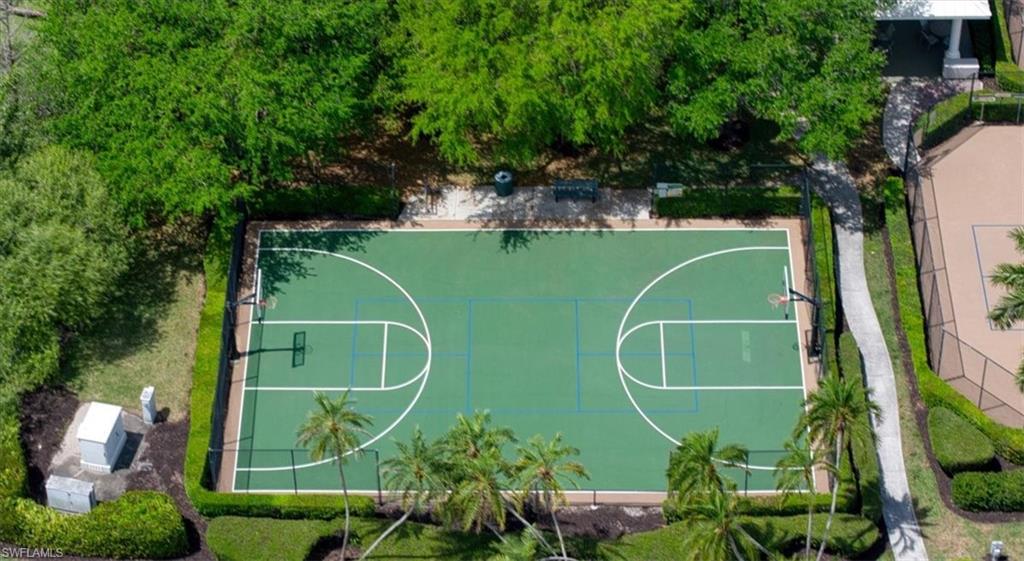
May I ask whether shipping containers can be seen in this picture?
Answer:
No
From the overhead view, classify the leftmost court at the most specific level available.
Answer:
basketball court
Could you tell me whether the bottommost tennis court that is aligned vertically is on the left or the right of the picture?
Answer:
right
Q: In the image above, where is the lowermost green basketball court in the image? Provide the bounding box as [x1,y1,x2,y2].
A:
[219,218,828,505]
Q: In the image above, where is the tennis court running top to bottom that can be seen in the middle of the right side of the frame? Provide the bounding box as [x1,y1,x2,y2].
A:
[906,120,1024,428]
